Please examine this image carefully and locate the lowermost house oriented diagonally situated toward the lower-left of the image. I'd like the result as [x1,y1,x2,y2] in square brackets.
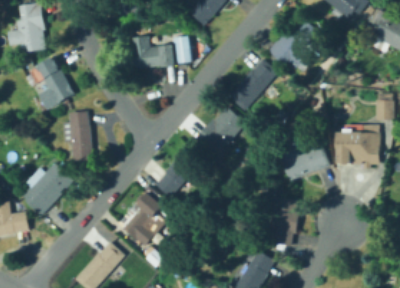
[76,243,124,288]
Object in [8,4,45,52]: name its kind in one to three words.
house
